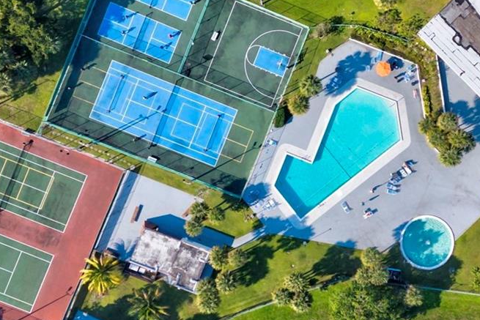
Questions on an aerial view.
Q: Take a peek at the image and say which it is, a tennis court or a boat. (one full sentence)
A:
The image shows a tennis court.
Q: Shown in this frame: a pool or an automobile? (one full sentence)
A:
It is a pool that can be seen here.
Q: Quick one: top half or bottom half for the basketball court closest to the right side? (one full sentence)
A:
Seen from above, the basketball court closest to the right side lies in the top half of the view.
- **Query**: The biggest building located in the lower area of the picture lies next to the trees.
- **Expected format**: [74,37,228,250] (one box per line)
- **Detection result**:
[120,229,208,295]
